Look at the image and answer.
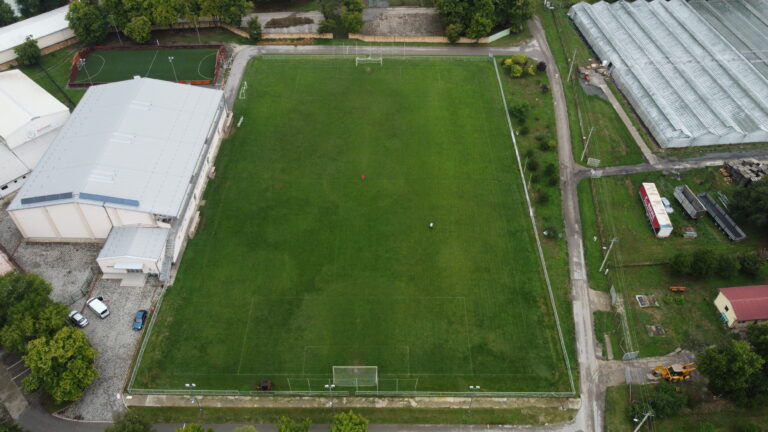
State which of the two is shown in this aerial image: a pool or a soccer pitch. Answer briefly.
soccer pitch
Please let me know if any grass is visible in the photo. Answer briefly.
Yes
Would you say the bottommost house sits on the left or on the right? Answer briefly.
right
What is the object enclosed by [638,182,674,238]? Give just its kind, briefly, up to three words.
trailer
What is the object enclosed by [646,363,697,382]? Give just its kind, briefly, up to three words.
work vehicle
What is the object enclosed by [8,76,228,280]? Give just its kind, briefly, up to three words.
building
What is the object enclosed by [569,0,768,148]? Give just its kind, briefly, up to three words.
greenhouse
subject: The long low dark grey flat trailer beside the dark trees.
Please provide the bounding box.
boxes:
[695,192,746,241]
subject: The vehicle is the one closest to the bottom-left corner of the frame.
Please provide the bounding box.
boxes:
[67,310,88,329]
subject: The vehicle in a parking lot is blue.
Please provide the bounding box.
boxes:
[130,310,148,332]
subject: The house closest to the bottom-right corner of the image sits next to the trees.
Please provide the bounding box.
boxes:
[713,286,768,330]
